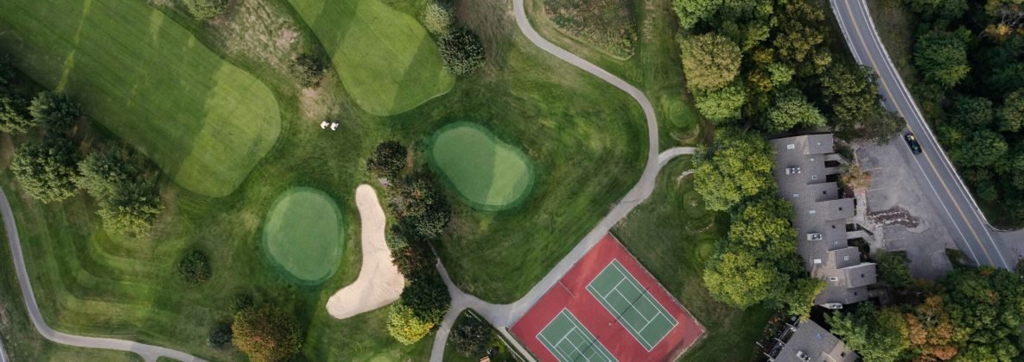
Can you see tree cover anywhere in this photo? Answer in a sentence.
Yes, tree cover shows up in the scene.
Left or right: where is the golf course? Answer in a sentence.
The golf course is on the left side of the image.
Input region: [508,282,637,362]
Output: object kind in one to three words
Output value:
tennis court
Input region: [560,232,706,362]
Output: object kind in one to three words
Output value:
tennis court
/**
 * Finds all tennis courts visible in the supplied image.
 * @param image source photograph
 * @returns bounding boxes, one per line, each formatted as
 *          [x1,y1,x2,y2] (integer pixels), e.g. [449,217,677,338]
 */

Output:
[560,232,706,362]
[508,282,637,362]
